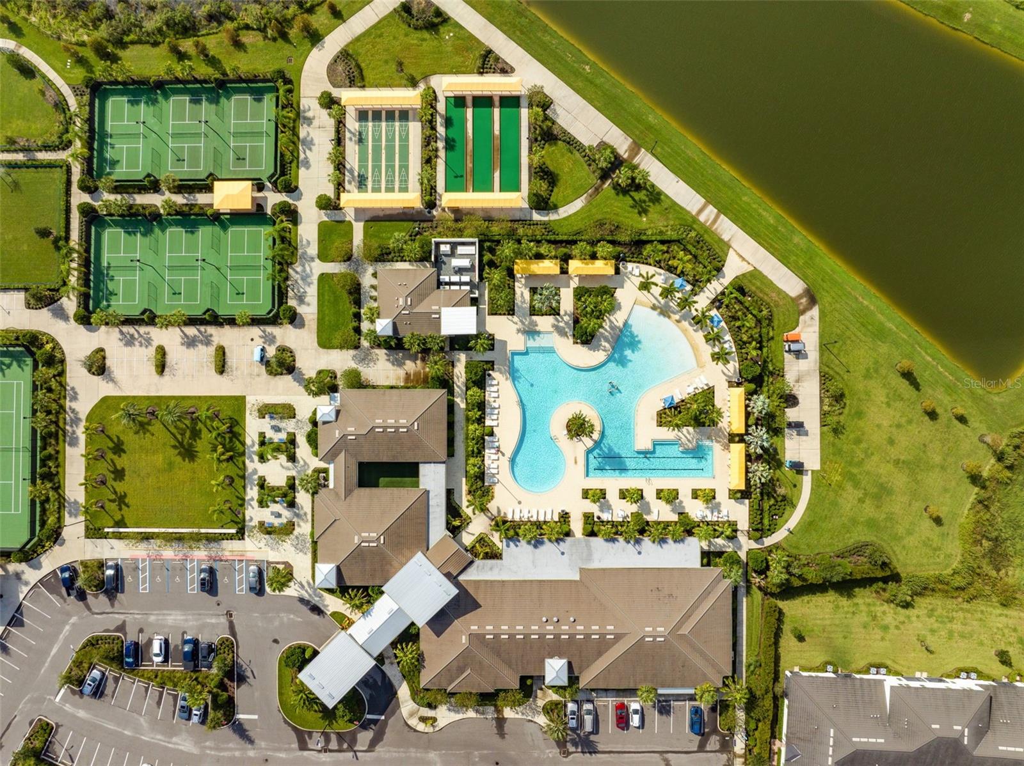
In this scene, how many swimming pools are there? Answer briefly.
1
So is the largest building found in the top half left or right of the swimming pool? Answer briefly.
on its left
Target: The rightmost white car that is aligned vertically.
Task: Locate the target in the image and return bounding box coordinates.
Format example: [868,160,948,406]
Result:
[630,700,642,728]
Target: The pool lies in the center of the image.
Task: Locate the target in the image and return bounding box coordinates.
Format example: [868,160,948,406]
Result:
[508,296,715,495]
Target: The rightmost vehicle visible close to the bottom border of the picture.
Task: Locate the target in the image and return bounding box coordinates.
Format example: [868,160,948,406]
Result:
[690,706,703,734]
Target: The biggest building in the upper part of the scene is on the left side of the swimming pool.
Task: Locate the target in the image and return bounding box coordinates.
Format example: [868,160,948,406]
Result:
[377,268,471,335]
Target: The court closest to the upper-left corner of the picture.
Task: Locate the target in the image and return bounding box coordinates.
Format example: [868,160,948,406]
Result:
[103,97,141,170]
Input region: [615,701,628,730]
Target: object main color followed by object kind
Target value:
red vehicle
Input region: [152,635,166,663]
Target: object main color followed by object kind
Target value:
white car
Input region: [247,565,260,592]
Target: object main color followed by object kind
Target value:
gray vehicle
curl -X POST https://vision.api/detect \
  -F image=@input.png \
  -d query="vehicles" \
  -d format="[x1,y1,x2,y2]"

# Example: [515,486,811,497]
[783,334,802,341]
[690,706,703,734]
[198,564,212,592]
[178,692,192,721]
[786,421,804,428]
[191,698,207,727]
[59,564,78,593]
[182,637,197,670]
[615,701,628,730]
[105,562,120,590]
[785,461,803,469]
[567,701,579,729]
[254,347,264,361]
[200,637,214,671]
[123,639,138,668]
[247,565,260,592]
[84,667,103,696]
[582,701,595,731]
[630,700,642,728]
[152,635,166,663]
[784,344,803,351]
